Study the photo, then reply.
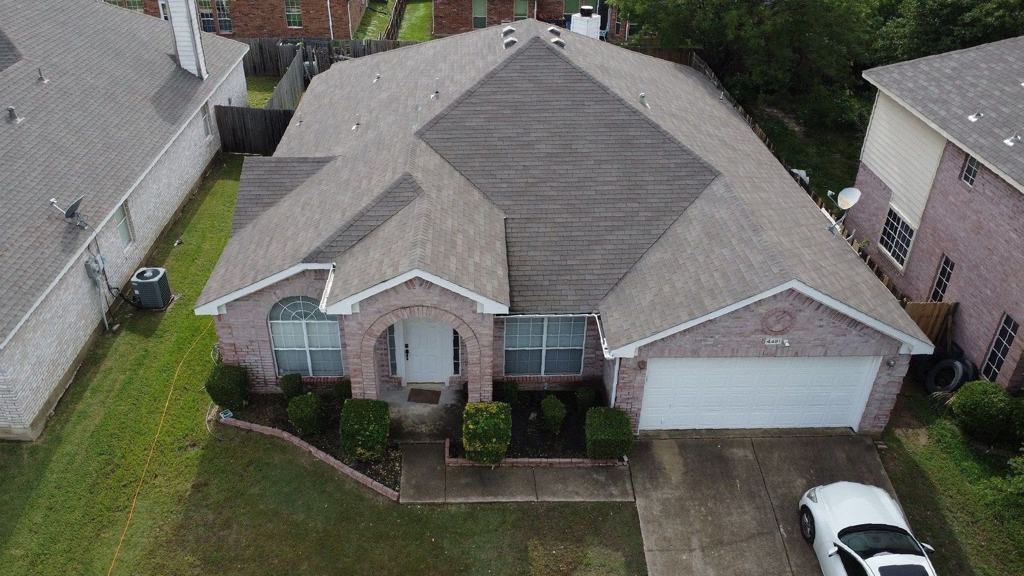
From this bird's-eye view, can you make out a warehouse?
No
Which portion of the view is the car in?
bottom right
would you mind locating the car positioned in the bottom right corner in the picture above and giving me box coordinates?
[794,483,939,576]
